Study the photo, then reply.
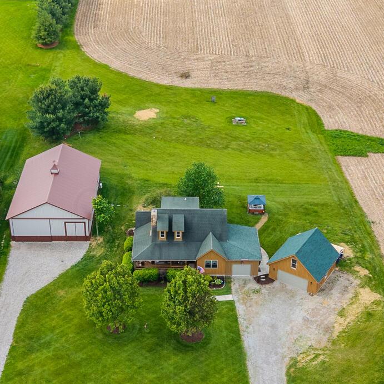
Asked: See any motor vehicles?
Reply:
No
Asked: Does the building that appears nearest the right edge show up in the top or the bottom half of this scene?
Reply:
bottom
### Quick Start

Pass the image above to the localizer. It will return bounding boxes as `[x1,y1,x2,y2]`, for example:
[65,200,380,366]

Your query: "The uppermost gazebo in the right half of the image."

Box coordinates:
[246,193,268,217]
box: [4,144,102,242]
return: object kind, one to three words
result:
barn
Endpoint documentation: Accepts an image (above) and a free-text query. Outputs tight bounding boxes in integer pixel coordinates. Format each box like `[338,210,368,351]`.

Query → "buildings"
[4,144,102,242]
[266,228,341,294]
[131,196,264,278]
